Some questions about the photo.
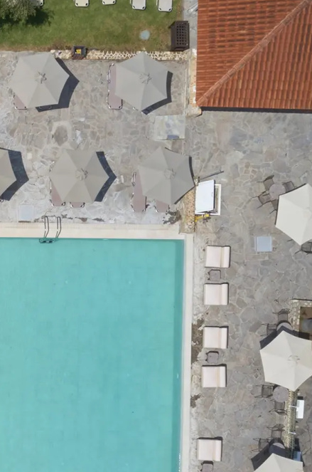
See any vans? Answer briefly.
No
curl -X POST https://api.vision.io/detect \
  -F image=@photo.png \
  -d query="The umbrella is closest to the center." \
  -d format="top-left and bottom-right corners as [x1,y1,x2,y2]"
[136,146,195,206]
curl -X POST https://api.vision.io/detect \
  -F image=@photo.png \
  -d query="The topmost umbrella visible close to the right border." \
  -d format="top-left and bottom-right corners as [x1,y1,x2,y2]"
[273,185,312,246]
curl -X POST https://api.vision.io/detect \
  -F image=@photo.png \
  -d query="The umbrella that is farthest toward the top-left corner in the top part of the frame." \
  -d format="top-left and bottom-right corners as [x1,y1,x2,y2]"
[9,53,70,109]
